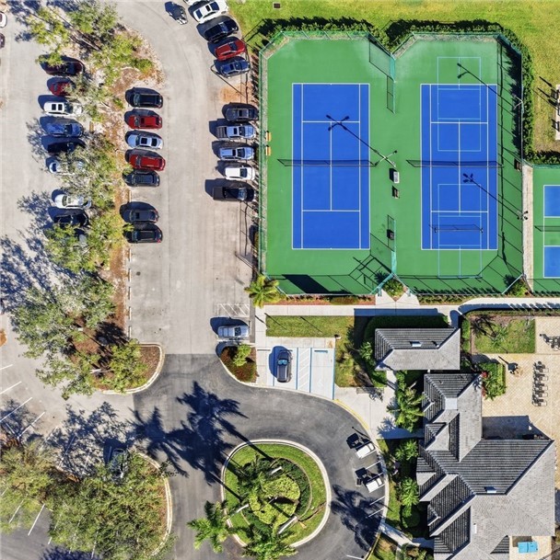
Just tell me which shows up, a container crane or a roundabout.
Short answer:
roundabout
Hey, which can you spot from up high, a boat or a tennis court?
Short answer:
tennis court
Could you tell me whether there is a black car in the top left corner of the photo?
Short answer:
Yes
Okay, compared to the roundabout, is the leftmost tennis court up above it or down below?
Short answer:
above it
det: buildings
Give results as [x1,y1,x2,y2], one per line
[417,374,555,560]
[374,328,460,371]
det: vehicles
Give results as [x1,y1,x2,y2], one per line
[130,152,166,170]
[364,475,386,493]
[219,58,251,77]
[213,39,249,60]
[211,184,255,202]
[191,0,228,22]
[0,13,10,28]
[128,207,162,223]
[129,112,163,128]
[223,104,259,121]
[218,146,255,160]
[128,170,162,186]
[129,132,164,148]
[217,324,251,339]
[46,120,84,137]
[45,80,77,96]
[356,441,377,459]
[224,166,255,181]
[129,226,165,242]
[216,123,255,139]
[173,9,186,23]
[202,18,240,41]
[45,138,82,155]
[109,446,130,479]
[129,88,163,105]
[275,350,292,383]
[0,33,6,48]
[45,99,83,117]
[44,57,83,75]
